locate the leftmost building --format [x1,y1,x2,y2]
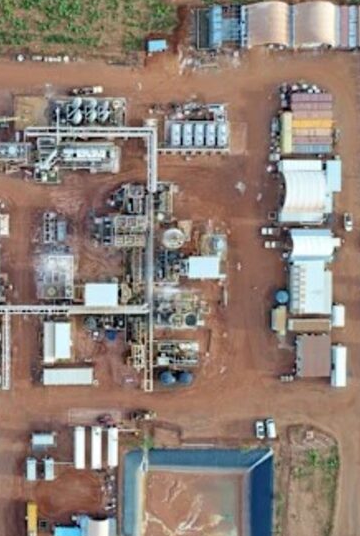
[0,161,30,176]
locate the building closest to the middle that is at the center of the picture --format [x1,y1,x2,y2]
[186,256,219,278]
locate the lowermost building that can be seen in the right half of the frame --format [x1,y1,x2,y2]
[293,335,331,376]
